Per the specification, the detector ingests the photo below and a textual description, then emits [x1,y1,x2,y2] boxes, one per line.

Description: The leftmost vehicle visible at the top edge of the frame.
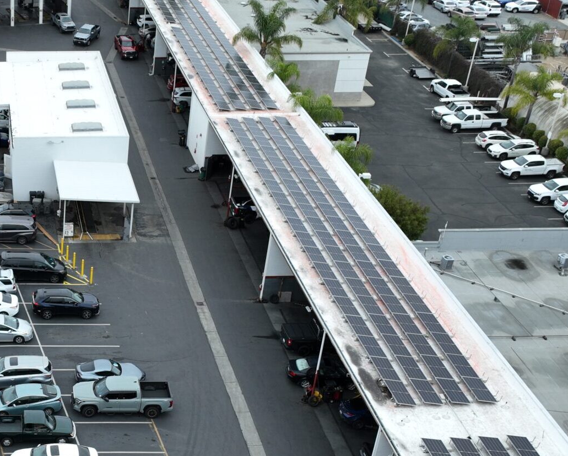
[50,8,75,29]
